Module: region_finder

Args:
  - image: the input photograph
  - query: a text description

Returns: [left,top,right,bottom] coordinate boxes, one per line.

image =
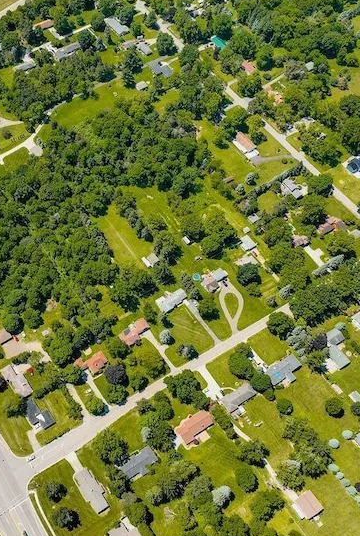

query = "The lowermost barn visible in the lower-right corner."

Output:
[290,490,323,520]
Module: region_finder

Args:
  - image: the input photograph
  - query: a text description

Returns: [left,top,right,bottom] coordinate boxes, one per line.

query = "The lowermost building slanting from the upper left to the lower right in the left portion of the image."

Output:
[75,467,110,514]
